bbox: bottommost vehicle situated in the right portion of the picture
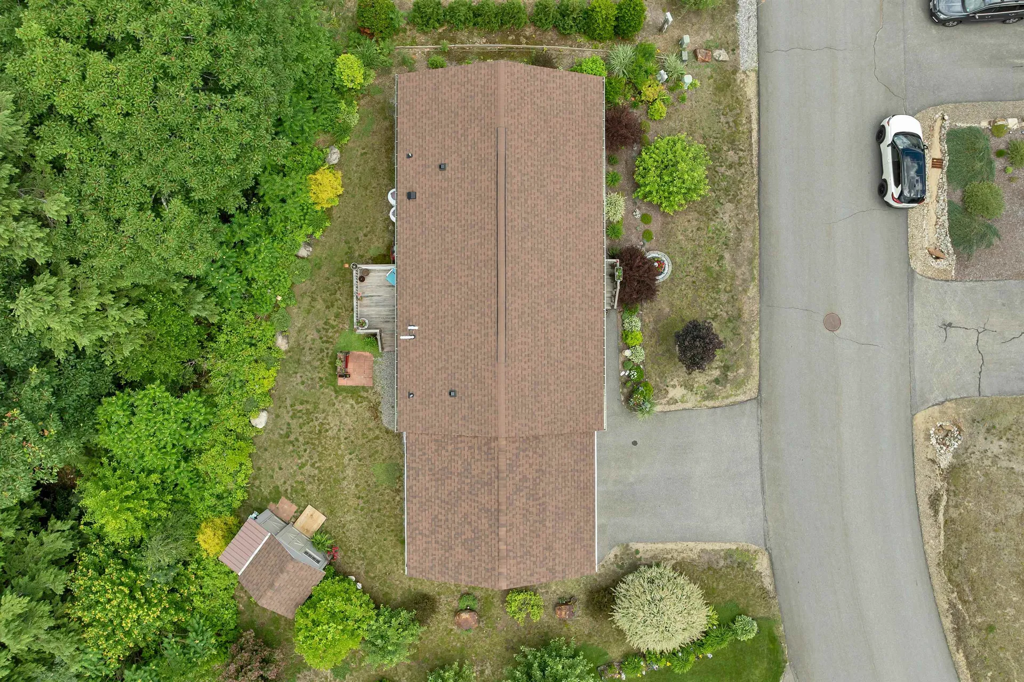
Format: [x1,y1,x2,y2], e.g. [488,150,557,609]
[872,115,929,210]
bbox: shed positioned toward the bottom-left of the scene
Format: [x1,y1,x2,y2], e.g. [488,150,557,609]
[219,510,334,617]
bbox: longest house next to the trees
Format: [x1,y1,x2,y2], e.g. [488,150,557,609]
[396,59,606,588]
